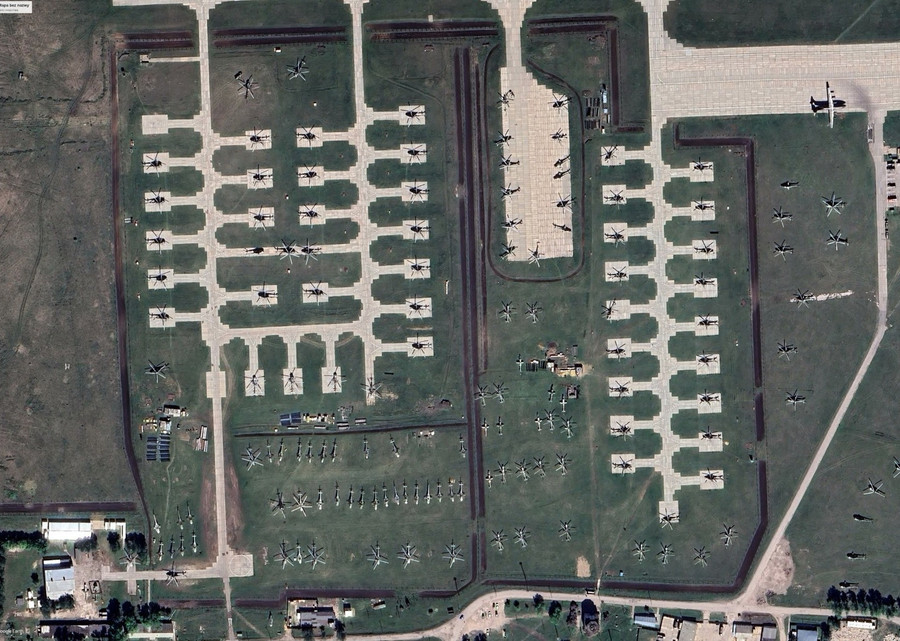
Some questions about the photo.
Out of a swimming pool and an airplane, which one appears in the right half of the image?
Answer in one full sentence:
You can see an airplane in the right half of the image.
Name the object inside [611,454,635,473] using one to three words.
helipad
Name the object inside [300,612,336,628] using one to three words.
house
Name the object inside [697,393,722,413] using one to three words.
helipad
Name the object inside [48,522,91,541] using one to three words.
building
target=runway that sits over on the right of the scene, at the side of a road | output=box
[648,15,900,124]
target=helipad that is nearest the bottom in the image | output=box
[227,555,253,578]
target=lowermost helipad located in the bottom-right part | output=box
[659,501,679,523]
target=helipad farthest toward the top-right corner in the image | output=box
[690,162,714,181]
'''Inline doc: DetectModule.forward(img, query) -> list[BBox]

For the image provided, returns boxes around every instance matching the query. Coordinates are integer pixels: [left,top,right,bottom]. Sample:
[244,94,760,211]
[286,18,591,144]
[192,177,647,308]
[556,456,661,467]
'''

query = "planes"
[814,88,846,128]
